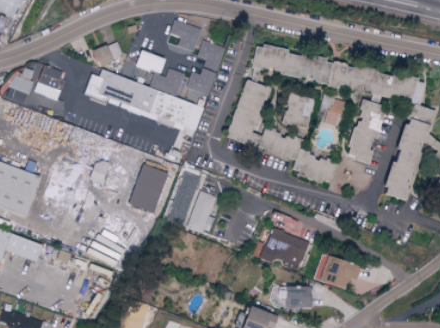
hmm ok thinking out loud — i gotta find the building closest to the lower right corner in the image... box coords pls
[315,254,362,289]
